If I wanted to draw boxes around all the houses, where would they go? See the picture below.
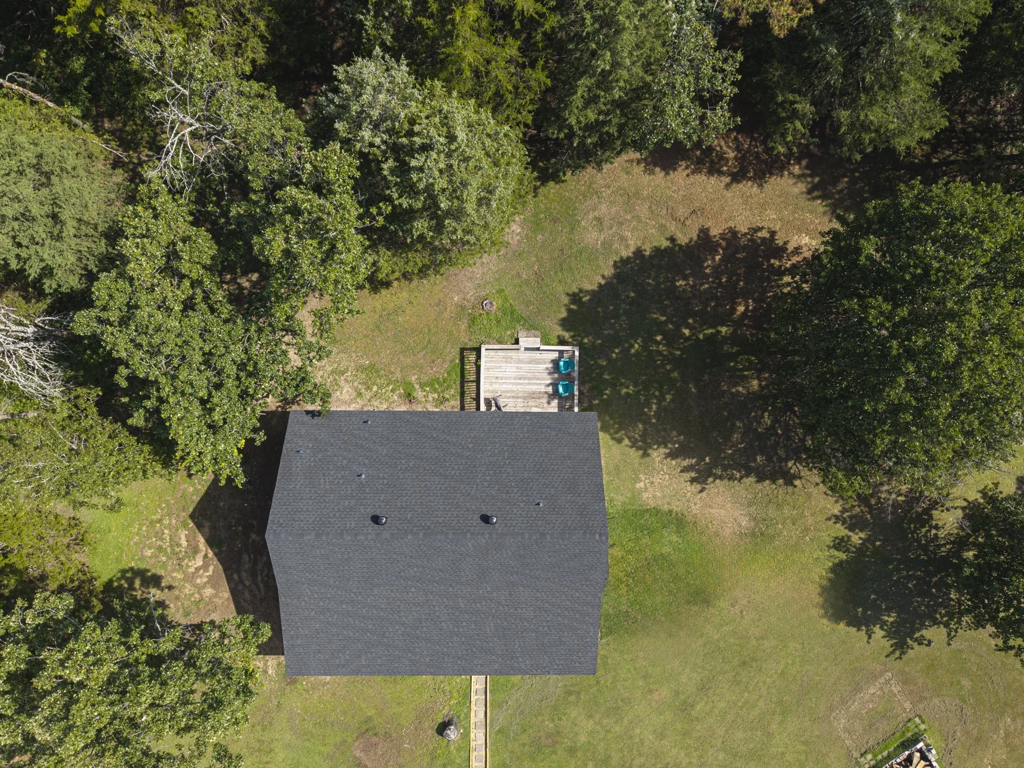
[265,411,609,675]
